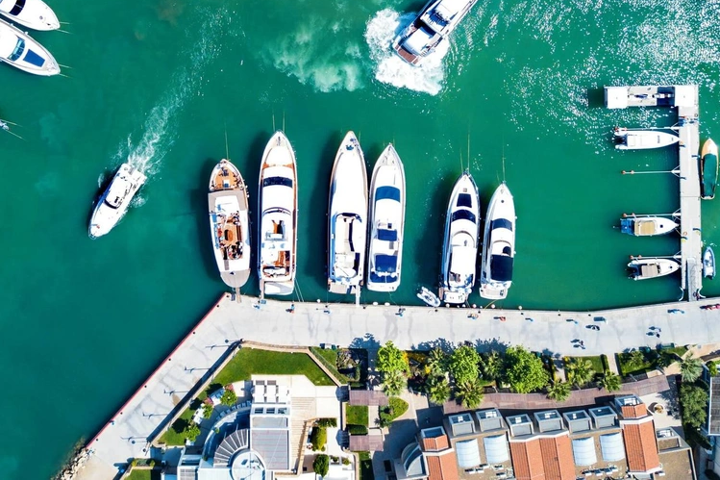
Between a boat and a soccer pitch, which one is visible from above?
boat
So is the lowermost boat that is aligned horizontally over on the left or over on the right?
right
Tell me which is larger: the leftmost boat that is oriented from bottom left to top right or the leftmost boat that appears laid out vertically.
the leftmost boat that appears laid out vertically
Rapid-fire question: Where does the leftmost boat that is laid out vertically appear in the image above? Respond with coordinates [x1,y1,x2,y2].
[209,135,253,305]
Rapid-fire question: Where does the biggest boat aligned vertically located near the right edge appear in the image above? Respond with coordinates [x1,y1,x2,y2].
[700,140,719,197]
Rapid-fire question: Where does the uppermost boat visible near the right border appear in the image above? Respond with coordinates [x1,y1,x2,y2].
[612,130,684,148]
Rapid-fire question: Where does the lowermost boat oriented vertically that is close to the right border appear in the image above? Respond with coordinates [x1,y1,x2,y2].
[704,247,716,281]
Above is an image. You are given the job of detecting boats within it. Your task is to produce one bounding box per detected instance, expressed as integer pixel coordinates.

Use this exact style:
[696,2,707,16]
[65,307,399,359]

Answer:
[438,126,480,305]
[367,132,405,302]
[700,140,719,197]
[612,130,684,148]
[209,135,253,305]
[392,0,480,69]
[418,286,439,306]
[0,0,68,31]
[625,257,680,278]
[92,164,146,237]
[478,145,518,302]
[323,112,368,328]
[0,20,69,76]
[259,110,301,315]
[614,215,679,236]
[704,247,716,281]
